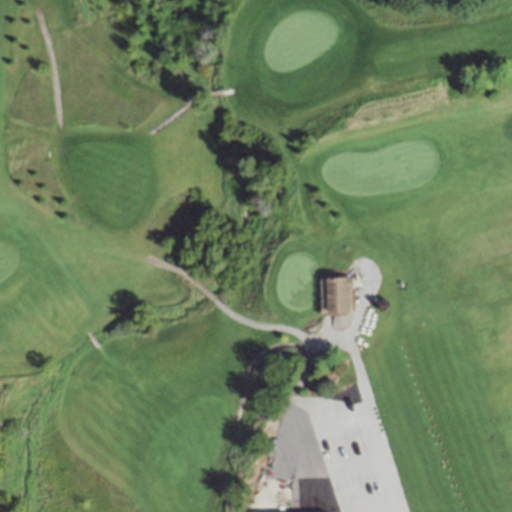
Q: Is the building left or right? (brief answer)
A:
right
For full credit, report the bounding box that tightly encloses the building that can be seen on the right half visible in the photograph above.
[320,278,354,328]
